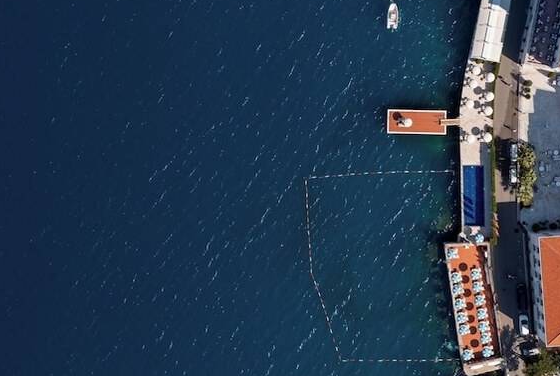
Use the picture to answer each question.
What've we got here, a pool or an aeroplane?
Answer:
pool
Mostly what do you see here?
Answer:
water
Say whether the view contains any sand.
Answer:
No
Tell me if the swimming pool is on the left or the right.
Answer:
right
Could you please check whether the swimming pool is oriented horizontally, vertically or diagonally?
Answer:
vertically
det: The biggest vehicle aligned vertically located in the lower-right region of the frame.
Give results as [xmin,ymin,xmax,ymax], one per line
[515,282,528,310]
